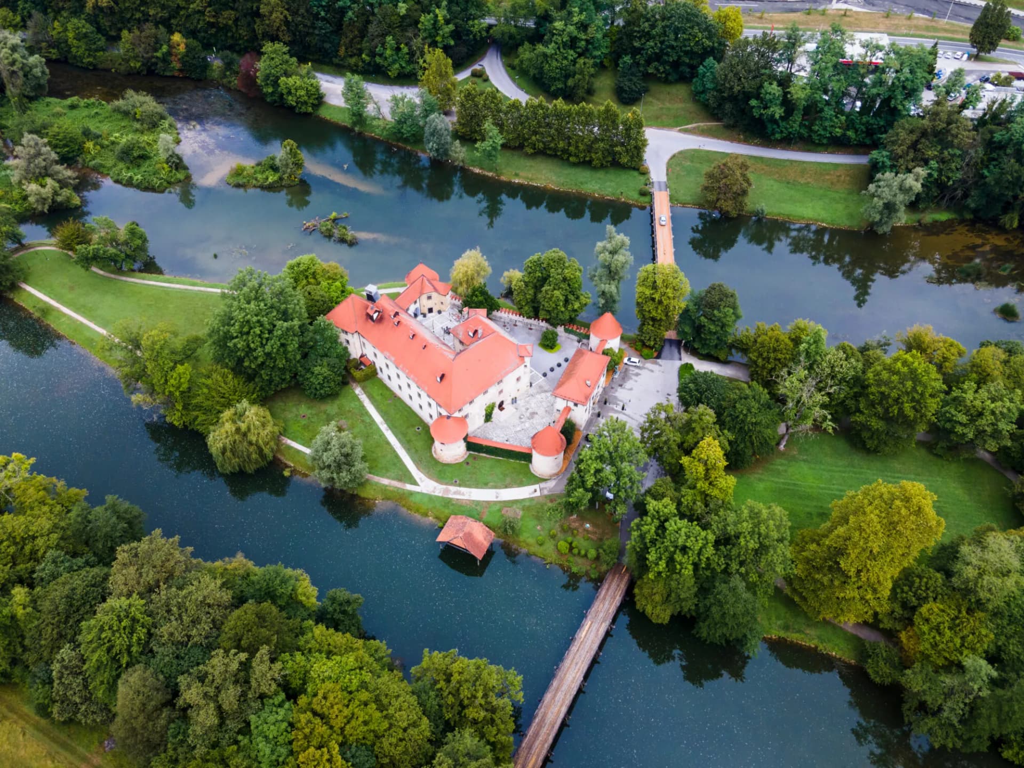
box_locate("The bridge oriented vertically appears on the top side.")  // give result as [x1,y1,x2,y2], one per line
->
[651,189,682,339]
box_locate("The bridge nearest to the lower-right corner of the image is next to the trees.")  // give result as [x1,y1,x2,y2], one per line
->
[510,564,631,768]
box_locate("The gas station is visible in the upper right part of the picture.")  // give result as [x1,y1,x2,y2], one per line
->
[800,33,887,71]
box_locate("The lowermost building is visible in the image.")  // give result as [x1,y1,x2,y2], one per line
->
[436,516,495,565]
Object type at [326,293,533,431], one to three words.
building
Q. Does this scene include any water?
Yes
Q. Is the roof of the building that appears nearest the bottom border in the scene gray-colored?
No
